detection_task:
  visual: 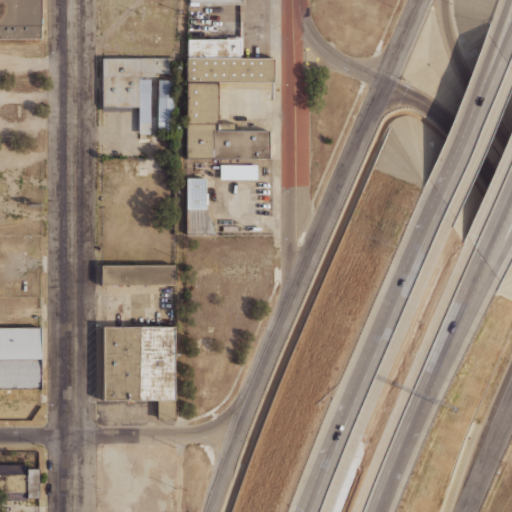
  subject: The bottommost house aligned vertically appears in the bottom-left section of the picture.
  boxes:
[28,470,40,498]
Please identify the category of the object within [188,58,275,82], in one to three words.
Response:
building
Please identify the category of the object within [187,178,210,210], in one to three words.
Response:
shed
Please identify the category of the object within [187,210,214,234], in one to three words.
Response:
shed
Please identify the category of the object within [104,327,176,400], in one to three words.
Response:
building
